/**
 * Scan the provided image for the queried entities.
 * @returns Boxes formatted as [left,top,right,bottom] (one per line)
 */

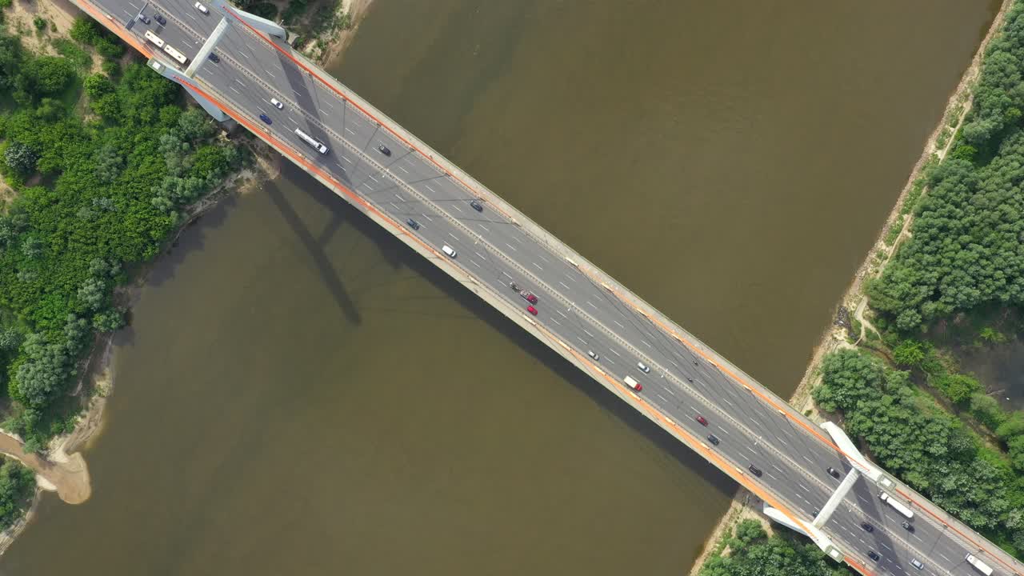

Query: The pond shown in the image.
[962,341,1024,413]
